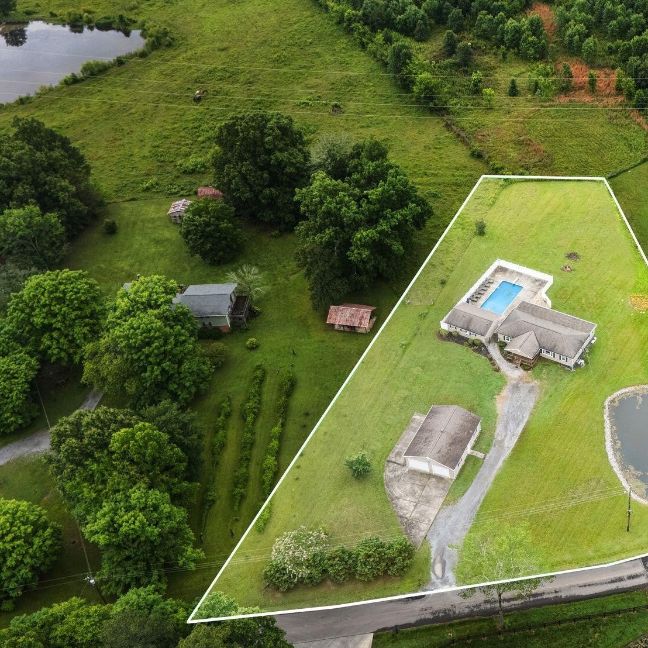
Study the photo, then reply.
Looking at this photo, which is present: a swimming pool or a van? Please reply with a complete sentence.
It is a swimming pool that can be seen here.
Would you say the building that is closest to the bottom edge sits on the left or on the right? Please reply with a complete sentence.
You can find the building that is closest to the bottom edge on the right side of the picture.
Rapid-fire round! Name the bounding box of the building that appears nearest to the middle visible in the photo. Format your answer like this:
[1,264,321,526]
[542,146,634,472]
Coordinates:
[326,301,381,333]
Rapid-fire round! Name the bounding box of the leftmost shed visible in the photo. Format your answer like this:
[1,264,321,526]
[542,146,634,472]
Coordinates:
[161,202,191,228]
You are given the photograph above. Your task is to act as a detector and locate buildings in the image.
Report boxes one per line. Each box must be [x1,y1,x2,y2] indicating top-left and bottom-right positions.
[443,301,598,371]
[402,405,482,478]
[326,301,381,333]
[161,202,191,228]
[161,287,253,333]
[194,184,222,201]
